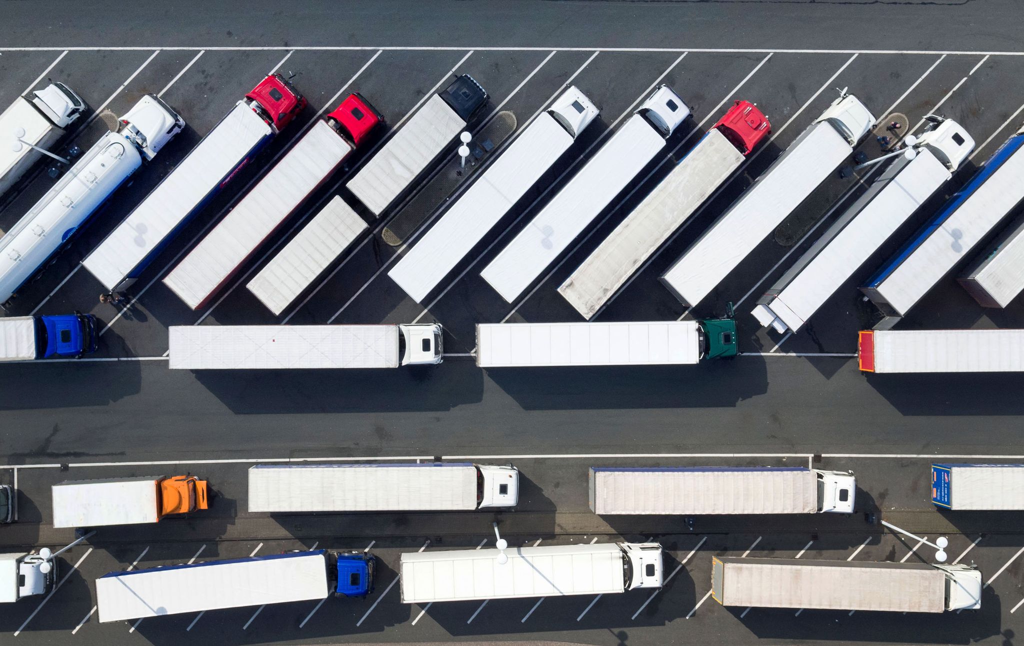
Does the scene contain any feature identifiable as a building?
No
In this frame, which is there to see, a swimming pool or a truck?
truck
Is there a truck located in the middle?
Yes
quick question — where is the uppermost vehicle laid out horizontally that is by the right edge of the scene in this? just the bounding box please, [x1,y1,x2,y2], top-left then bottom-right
[855,329,1024,372]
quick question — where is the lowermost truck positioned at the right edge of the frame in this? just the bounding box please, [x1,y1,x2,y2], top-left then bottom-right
[708,554,979,612]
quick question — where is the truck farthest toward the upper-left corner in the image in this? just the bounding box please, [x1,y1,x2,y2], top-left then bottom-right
[0,77,92,205]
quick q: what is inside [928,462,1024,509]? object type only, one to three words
truck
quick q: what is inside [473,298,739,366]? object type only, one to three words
truck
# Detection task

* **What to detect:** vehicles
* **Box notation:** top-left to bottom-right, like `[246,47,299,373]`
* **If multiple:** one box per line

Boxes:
[928,462,1024,509]
[708,554,979,612]
[473,298,739,366]
[553,97,771,320]
[248,460,522,512]
[953,210,1024,309]
[855,329,1024,372]
[0,547,66,602]
[0,311,102,360]
[479,82,692,304]
[387,83,603,305]
[246,71,494,316]
[80,70,307,294]
[163,91,388,311]
[0,91,190,309]
[0,478,17,526]
[754,114,972,337]
[588,465,855,514]
[857,127,1024,331]
[94,547,375,623]
[52,470,208,529]
[168,321,443,369]
[656,86,875,309]
[0,77,92,205]
[399,539,664,604]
